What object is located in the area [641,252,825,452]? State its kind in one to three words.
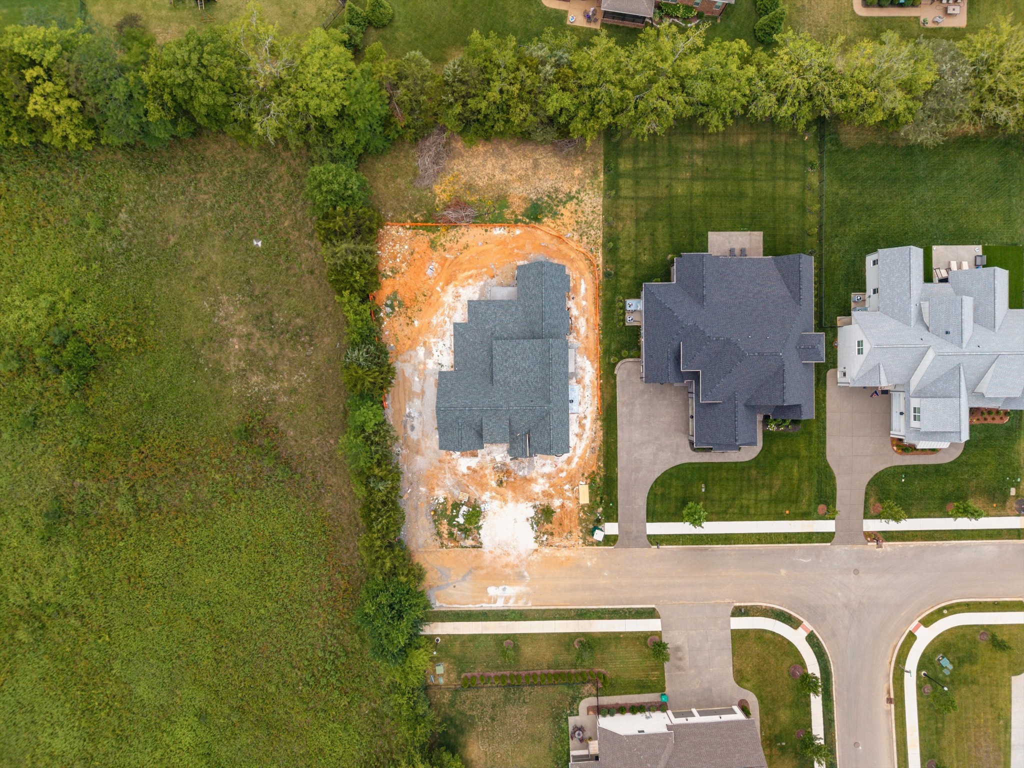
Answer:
house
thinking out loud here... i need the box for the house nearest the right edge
[838,246,1024,448]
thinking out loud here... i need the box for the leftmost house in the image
[436,261,569,458]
